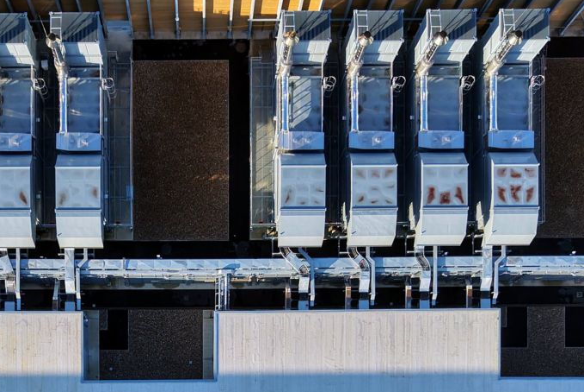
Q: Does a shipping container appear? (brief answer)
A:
Yes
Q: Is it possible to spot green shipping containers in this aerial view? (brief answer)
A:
No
